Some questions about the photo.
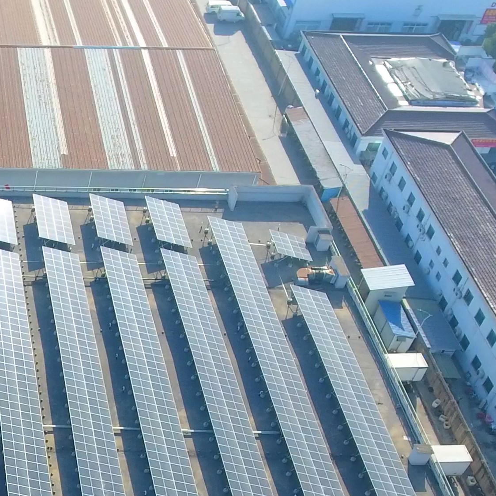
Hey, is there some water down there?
No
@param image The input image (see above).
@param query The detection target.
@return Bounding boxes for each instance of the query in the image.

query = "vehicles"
[204,0,233,12]
[216,6,247,22]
